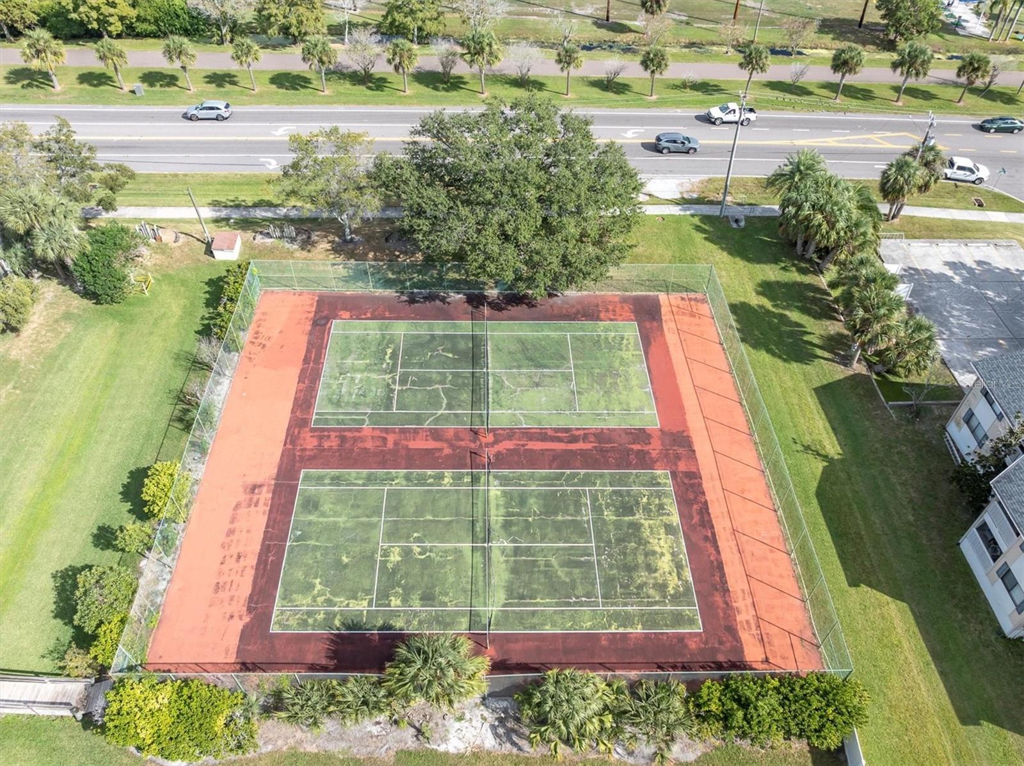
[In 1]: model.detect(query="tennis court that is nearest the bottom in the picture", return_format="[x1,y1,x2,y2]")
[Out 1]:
[269,470,702,633]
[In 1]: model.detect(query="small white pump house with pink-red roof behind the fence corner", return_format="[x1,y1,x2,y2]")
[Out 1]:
[211,230,241,259]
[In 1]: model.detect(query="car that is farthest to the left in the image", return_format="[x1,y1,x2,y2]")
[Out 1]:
[183,97,233,120]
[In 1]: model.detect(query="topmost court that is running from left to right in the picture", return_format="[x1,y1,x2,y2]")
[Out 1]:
[311,319,659,428]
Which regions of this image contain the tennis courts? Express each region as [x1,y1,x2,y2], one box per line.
[269,470,702,633]
[311,319,659,428]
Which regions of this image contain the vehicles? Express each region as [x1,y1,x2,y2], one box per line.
[979,115,1024,134]
[929,153,988,183]
[183,97,233,120]
[655,131,703,154]
[704,102,758,126]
